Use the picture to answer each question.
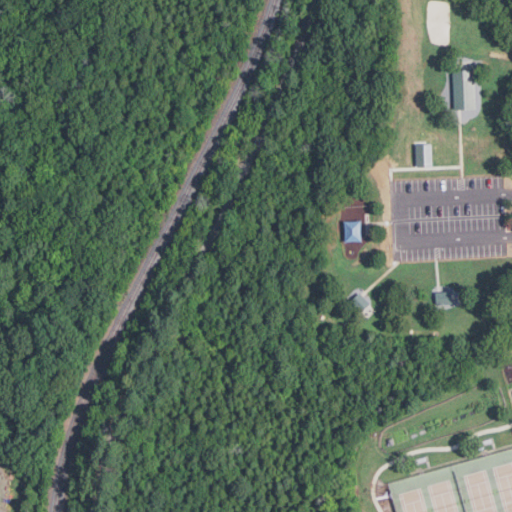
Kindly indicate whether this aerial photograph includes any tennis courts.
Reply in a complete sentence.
Yes, a tennis court appears in the view.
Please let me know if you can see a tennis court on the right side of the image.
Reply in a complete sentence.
Yes, looking on the right side of the image, one can make out a tennis court.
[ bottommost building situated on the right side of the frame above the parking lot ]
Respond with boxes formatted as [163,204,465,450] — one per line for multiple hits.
[416,144,432,168]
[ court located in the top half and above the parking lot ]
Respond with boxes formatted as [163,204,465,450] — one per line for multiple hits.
[427,0,450,47]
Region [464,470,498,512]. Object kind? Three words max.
tennis court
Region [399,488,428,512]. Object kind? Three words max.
tennis court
